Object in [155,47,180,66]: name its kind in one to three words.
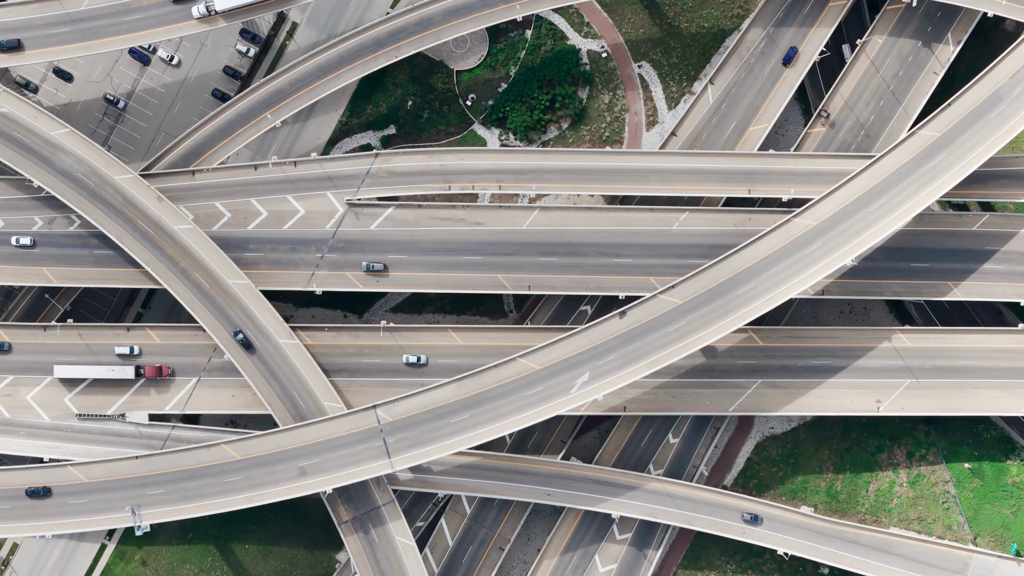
car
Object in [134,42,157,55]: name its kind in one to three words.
vehicle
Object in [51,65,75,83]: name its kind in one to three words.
car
